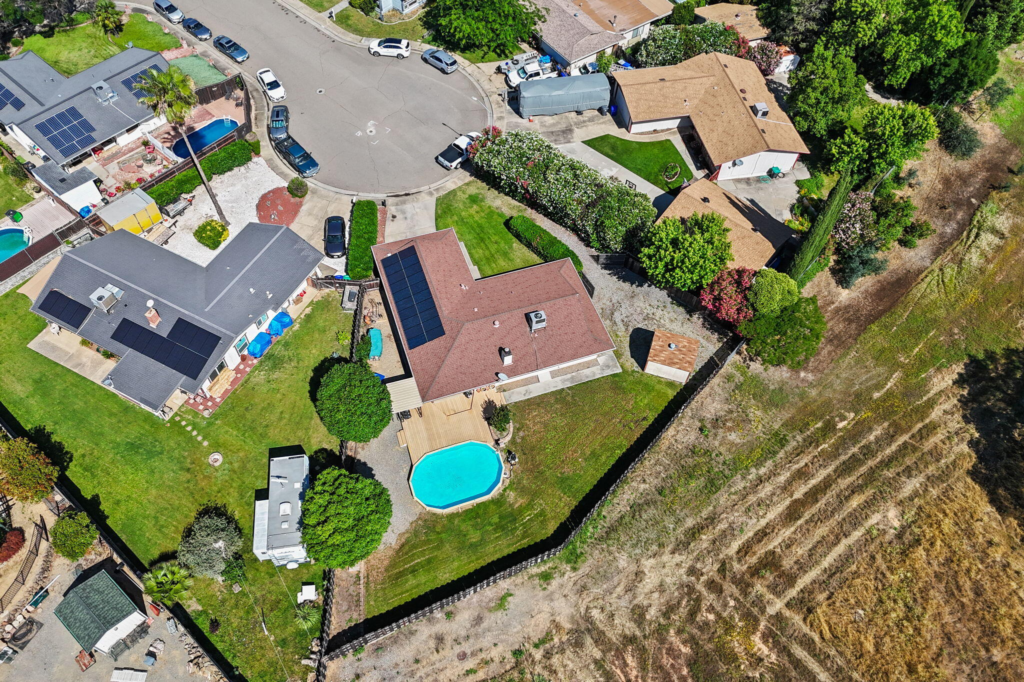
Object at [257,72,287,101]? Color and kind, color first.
white car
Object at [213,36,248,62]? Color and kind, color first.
blue car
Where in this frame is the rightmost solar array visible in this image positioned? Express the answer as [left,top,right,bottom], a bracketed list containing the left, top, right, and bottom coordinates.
[380,245,445,348]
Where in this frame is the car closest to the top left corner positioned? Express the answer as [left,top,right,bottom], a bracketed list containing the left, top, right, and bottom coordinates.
[156,0,184,23]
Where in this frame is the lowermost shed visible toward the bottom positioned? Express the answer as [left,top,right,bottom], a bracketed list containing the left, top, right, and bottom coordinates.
[53,570,146,658]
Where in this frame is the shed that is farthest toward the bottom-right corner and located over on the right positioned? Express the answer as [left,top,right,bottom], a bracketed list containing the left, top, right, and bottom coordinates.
[644,329,700,387]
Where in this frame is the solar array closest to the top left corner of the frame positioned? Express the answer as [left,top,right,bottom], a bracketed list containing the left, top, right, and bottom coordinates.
[0,84,23,115]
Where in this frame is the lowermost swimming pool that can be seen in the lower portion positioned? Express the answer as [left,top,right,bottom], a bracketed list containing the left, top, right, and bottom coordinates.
[409,440,505,518]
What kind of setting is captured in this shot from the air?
residential area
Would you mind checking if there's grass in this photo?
Yes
